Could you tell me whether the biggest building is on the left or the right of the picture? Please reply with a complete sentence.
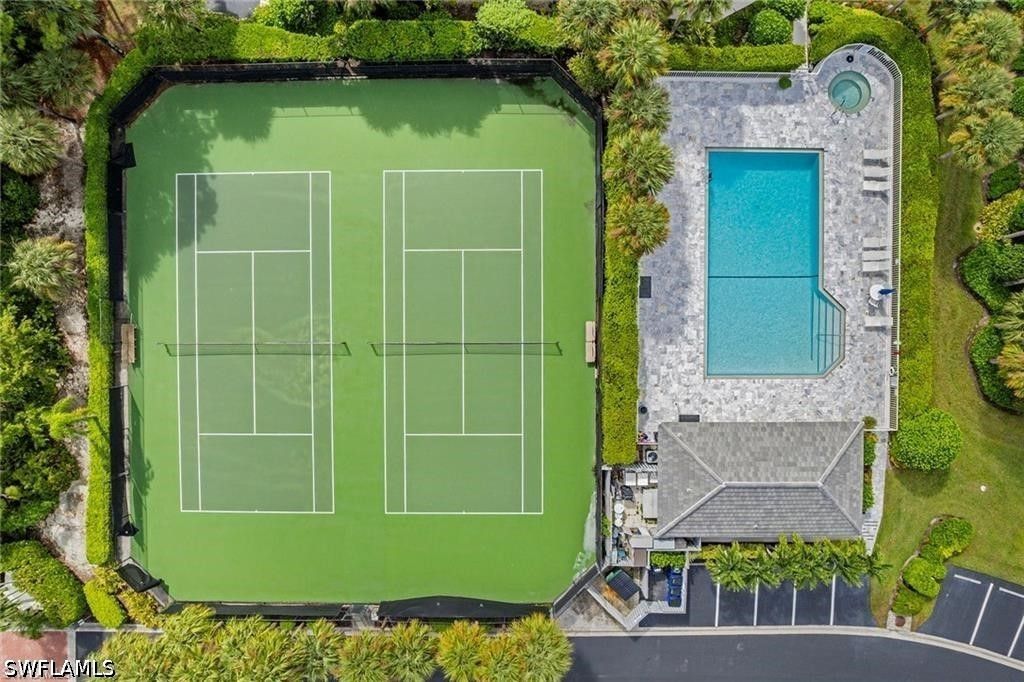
It is on the right.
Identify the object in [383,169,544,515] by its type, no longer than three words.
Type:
tennis court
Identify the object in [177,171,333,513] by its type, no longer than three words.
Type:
tennis court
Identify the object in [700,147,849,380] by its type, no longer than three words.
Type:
swimming pool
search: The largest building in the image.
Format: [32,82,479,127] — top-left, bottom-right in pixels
[657,420,866,542]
